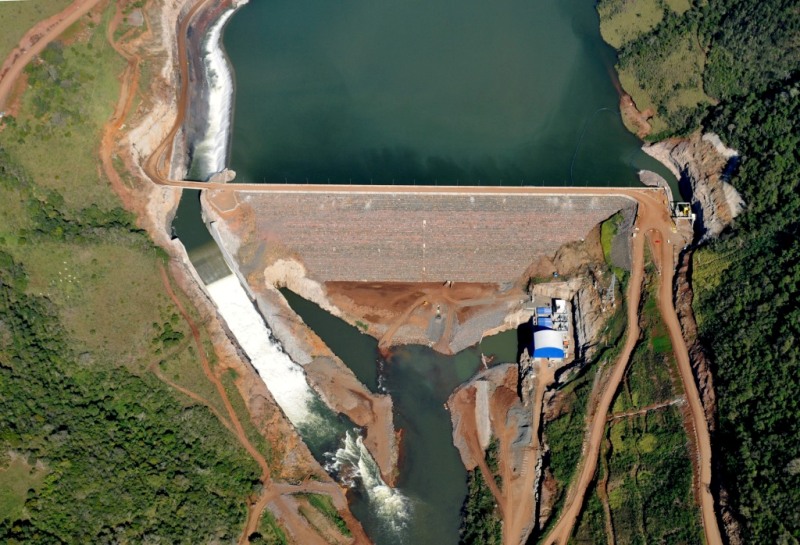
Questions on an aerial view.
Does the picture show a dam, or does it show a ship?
dam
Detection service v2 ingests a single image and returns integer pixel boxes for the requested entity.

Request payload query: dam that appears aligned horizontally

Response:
[206,183,668,283]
